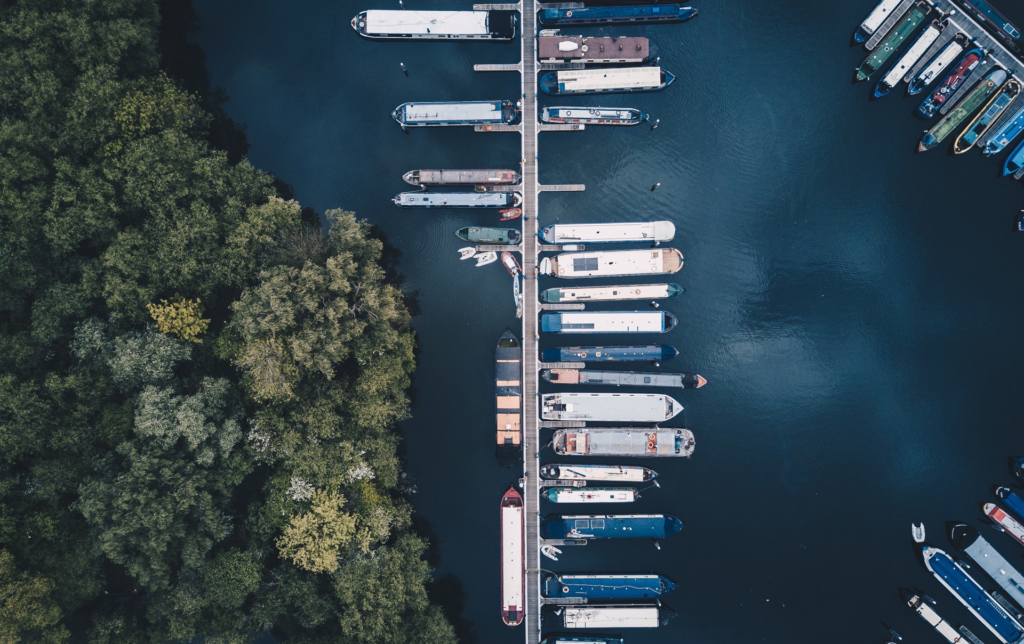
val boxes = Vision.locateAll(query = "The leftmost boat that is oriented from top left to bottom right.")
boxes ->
[501,252,523,280]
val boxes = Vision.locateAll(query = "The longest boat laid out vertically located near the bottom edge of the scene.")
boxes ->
[499,483,524,627]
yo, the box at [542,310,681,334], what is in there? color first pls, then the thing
white boat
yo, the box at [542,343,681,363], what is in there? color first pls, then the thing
blue boat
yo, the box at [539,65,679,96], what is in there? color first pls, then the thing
white ship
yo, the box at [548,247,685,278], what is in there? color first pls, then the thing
white ship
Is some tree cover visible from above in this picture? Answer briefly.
Yes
